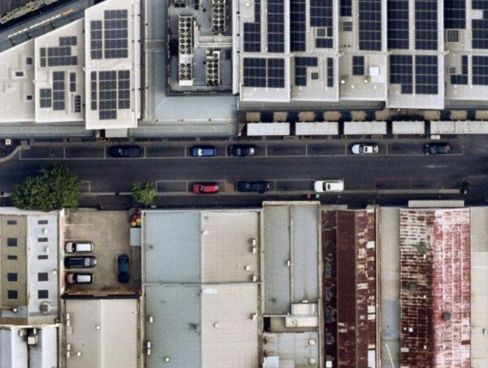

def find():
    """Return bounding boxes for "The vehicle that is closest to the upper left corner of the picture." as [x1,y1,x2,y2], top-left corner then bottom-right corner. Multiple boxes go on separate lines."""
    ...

[111,144,141,159]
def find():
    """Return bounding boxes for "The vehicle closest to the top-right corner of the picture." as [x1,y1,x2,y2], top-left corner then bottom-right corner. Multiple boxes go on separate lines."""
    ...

[424,143,451,156]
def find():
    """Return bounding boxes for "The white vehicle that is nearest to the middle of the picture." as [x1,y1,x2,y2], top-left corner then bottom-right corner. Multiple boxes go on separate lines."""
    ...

[314,180,344,194]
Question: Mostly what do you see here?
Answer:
buildings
